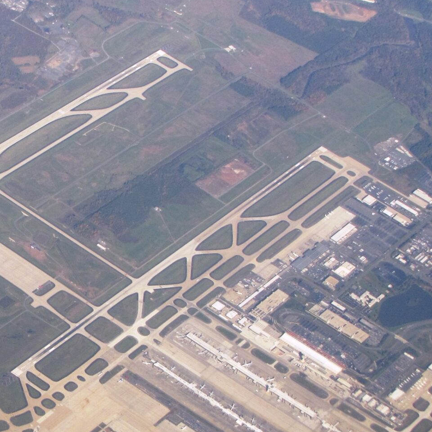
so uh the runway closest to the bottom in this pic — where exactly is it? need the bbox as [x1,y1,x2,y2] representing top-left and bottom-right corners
[14,146,325,375]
